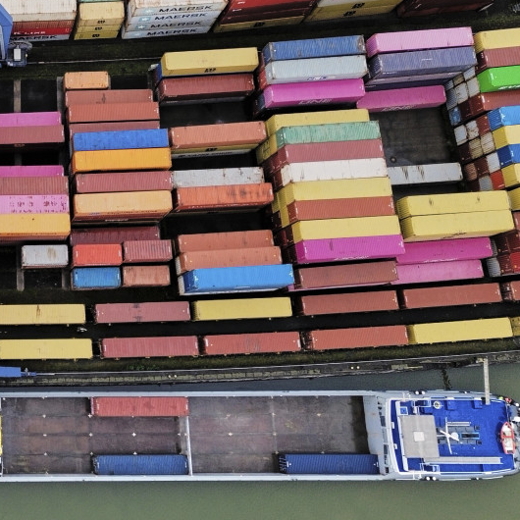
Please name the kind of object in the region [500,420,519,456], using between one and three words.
boat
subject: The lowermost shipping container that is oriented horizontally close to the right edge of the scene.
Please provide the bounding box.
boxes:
[407,318,511,345]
